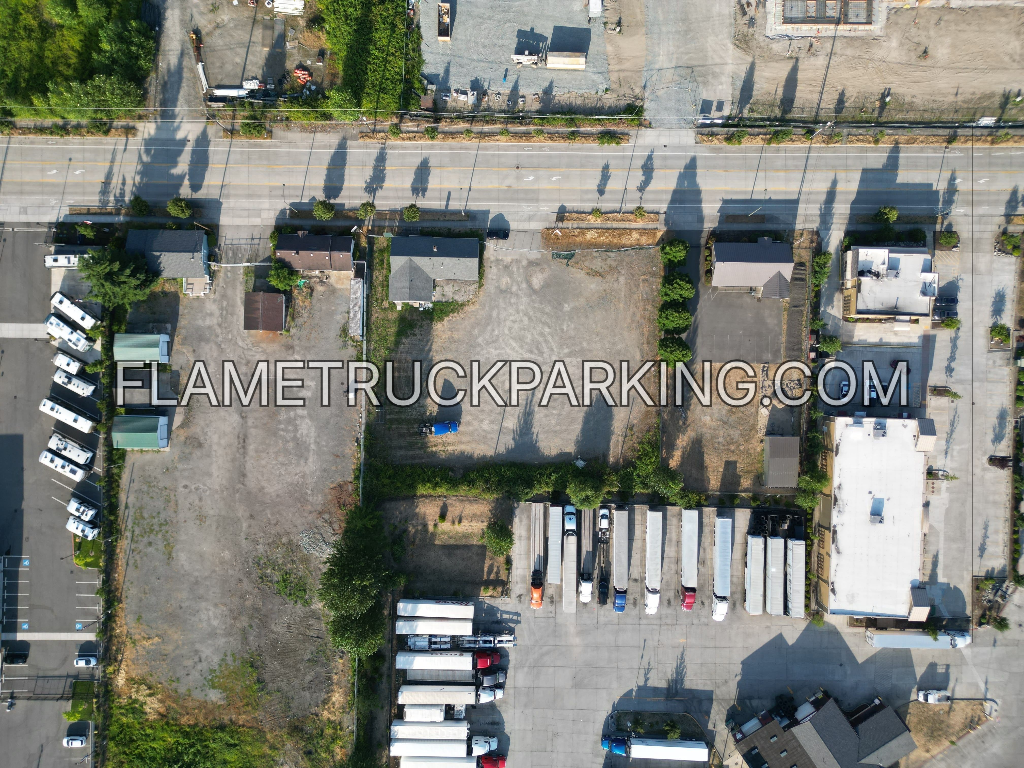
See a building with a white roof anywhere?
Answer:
Yes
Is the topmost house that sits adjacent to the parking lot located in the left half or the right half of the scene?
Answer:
left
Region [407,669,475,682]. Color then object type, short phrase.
gray vehicle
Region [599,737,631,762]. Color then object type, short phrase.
blue truck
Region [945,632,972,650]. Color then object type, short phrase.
white vehicle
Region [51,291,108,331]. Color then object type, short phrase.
white camper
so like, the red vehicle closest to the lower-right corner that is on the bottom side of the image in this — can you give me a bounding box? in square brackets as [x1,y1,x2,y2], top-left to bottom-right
[681,585,696,612]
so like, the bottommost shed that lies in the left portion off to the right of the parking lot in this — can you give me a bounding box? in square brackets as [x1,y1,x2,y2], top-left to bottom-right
[109,415,173,448]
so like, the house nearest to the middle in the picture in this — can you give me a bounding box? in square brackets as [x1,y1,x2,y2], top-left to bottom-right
[389,235,479,312]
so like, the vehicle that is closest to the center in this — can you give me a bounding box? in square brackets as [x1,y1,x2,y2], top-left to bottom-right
[419,422,460,436]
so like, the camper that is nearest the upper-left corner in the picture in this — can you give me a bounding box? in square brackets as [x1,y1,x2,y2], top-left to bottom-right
[47,256,101,270]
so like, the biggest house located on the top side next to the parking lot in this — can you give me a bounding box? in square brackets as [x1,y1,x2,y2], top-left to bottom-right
[126,229,209,298]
